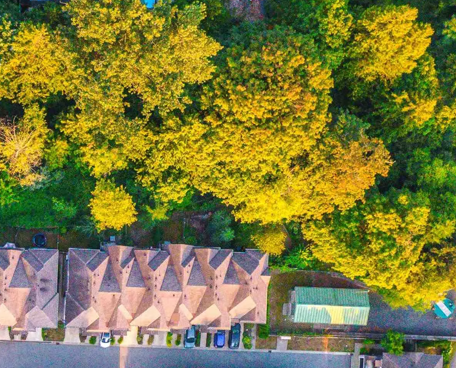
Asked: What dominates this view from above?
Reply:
trees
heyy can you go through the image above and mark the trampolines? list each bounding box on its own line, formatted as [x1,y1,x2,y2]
[30,231,48,247]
